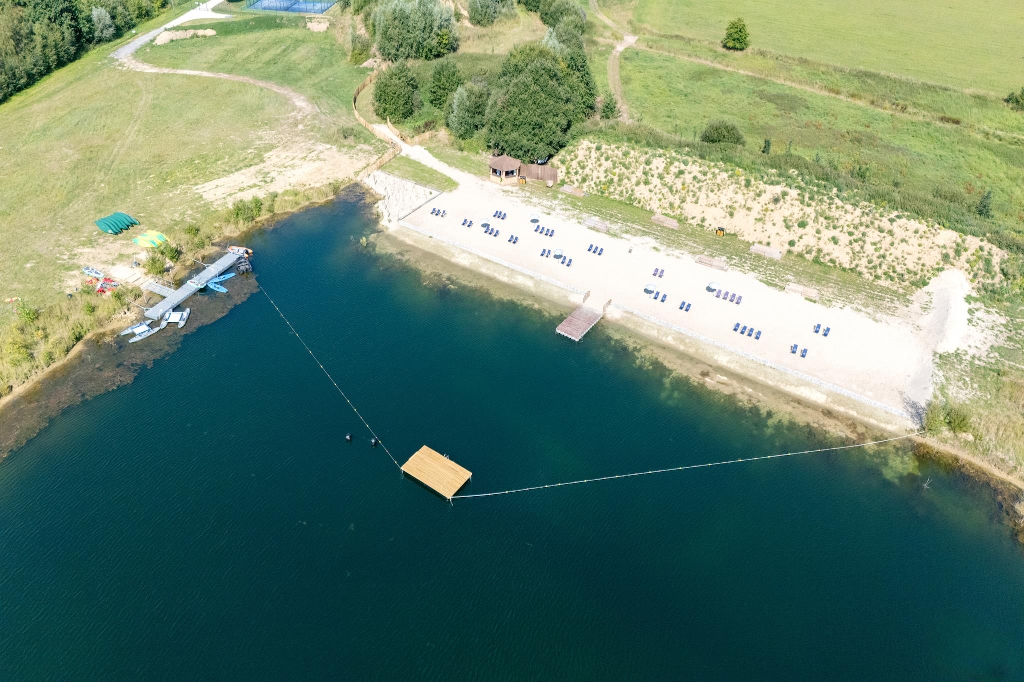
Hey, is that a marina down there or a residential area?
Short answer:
marina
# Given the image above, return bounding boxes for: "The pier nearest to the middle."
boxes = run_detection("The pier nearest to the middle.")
[555,306,602,345]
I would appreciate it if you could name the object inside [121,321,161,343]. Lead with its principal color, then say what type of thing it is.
white boat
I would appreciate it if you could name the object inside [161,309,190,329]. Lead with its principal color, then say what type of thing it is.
white boat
